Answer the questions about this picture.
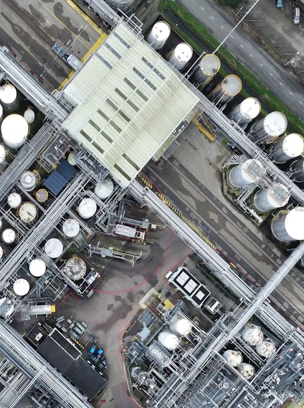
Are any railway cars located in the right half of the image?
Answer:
No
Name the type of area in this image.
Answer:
industrial area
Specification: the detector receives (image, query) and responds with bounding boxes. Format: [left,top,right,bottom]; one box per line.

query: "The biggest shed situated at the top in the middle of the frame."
[47,21,200,192]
